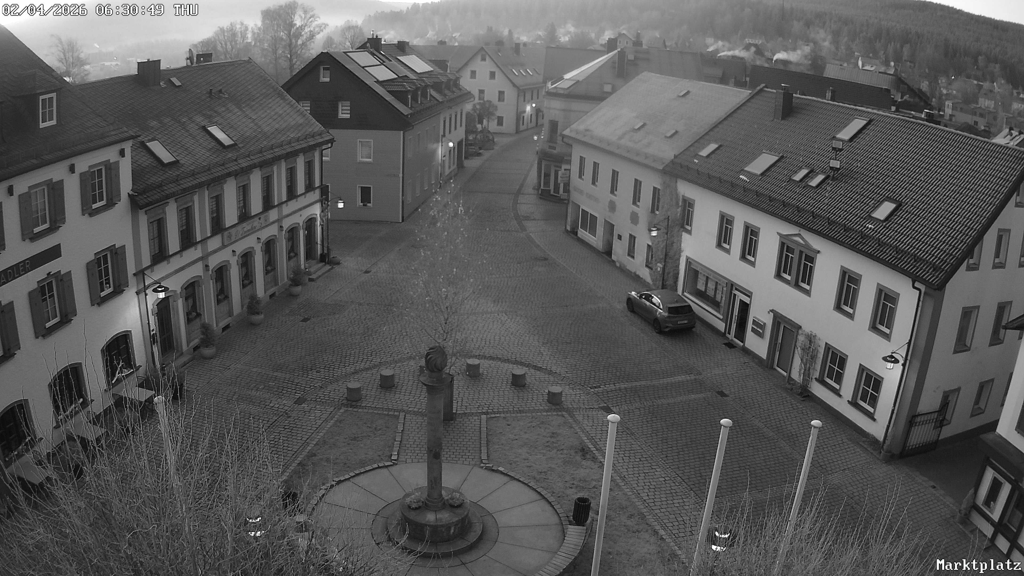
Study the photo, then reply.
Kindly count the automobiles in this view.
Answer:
1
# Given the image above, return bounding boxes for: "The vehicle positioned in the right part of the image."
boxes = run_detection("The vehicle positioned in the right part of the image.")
[626,290,695,333]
